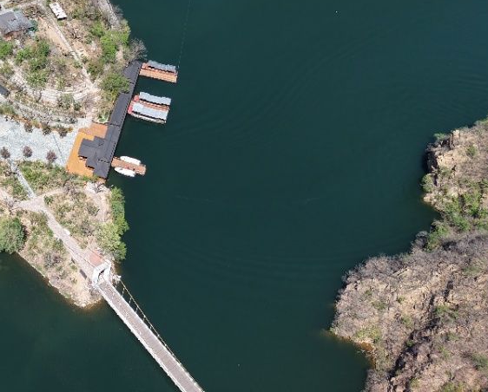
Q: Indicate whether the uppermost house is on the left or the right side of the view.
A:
left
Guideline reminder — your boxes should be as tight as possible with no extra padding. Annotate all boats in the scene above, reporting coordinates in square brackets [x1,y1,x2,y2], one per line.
[113,168,137,178]
[143,62,178,76]
[132,94,172,109]
[119,156,142,165]
[129,105,170,125]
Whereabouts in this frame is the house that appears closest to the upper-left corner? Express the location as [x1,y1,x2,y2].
[0,9,34,40]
